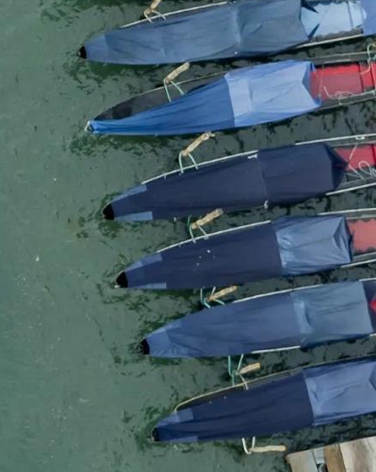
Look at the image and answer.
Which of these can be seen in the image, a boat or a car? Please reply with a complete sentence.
Of the two, only a boat appears.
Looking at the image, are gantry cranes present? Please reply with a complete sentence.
No, this view has no gantry crane in it.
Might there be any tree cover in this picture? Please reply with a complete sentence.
No, the picture contains no tree cover.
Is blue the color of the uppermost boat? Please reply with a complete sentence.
Yes, the uppermost boat is indeed blue.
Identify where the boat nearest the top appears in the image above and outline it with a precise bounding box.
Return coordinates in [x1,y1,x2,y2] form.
[79,0,376,68]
